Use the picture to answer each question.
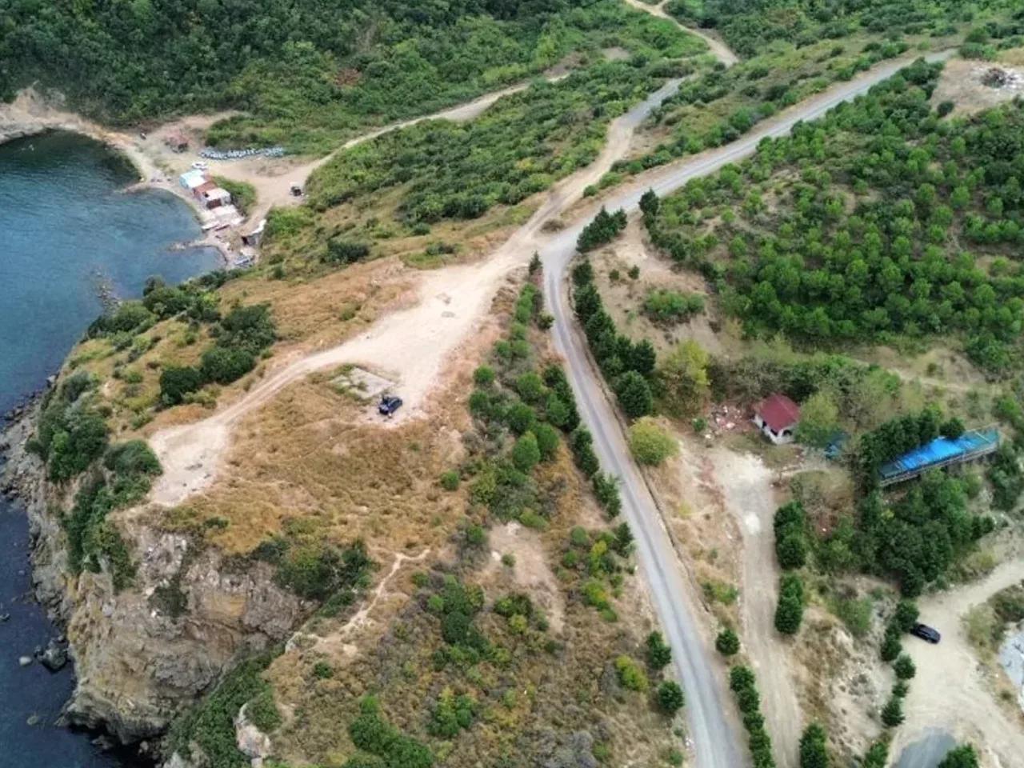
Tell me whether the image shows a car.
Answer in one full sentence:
Yes, a car appears in the view.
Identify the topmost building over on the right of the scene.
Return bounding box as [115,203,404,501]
[750,386,804,442]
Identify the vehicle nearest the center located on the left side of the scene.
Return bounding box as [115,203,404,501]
[376,393,406,417]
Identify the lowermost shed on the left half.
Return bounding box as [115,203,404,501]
[242,223,264,246]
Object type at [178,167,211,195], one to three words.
shed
